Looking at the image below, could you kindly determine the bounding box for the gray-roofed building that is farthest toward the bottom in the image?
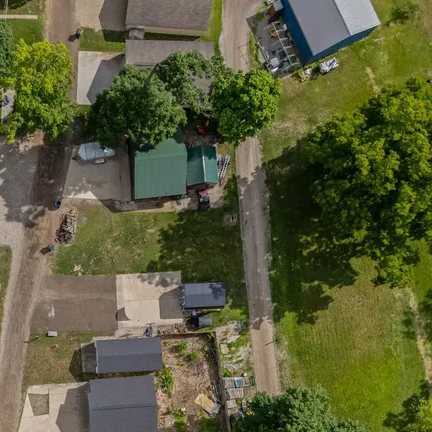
[89,376,157,432]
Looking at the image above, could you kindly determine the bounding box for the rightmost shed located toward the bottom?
[181,282,226,310]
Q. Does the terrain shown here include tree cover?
Yes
